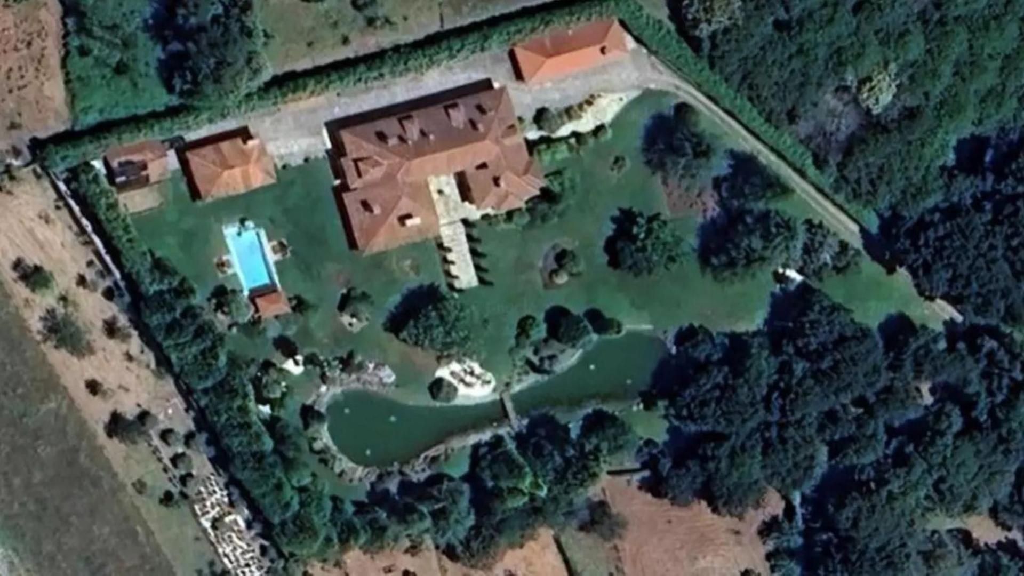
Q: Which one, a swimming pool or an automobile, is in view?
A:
swimming pool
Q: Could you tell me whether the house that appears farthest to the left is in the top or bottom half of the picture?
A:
top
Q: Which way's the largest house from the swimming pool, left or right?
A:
on the right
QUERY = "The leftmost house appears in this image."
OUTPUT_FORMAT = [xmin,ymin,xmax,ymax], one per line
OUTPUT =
[104,140,171,187]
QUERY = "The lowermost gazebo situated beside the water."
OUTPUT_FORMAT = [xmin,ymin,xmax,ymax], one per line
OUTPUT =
[426,373,455,401]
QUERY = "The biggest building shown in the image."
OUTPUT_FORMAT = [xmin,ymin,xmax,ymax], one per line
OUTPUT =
[338,86,543,256]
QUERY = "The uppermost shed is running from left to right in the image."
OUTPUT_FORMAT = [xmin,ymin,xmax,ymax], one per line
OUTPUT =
[512,19,631,83]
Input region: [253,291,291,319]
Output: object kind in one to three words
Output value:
shed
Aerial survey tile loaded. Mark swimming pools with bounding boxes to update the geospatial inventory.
[222,224,283,296]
